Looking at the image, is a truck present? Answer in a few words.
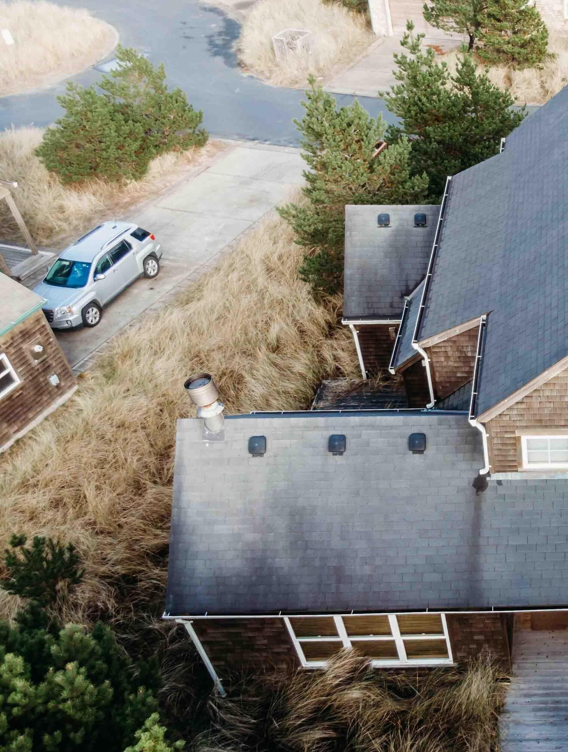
No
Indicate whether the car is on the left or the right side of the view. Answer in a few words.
left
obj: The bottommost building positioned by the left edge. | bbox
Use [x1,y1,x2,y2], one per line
[0,267,78,454]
